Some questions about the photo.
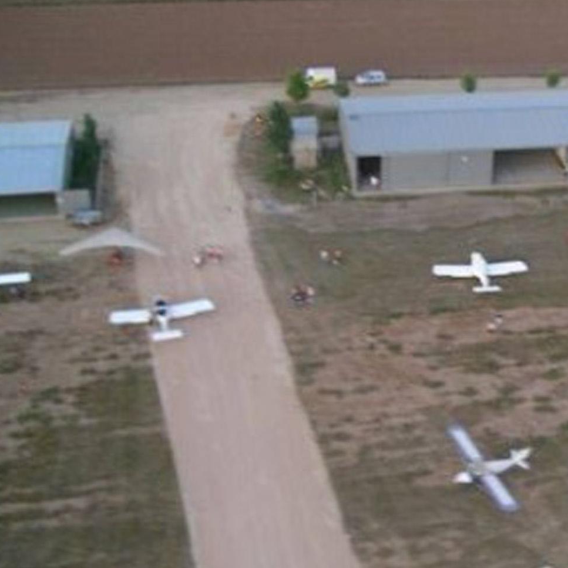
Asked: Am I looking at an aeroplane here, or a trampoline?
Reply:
aeroplane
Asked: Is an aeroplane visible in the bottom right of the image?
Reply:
Yes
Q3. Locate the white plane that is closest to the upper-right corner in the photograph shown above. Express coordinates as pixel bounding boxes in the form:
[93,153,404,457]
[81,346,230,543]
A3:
[432,253,528,291]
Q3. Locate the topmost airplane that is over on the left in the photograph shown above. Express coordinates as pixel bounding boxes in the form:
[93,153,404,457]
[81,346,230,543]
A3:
[58,230,162,270]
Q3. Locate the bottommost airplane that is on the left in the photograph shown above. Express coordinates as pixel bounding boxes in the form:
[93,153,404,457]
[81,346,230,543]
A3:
[107,294,216,337]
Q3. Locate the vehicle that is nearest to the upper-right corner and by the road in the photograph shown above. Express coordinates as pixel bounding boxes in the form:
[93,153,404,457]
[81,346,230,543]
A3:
[357,72,387,85]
